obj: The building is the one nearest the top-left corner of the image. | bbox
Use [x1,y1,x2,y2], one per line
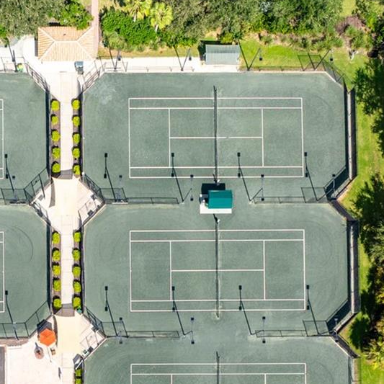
[37,27,98,65]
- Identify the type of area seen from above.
sports ground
